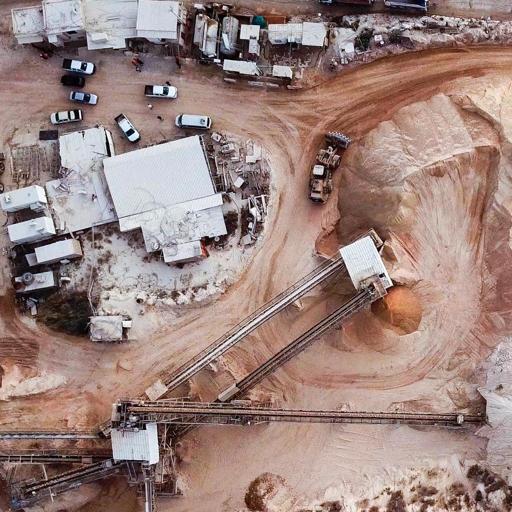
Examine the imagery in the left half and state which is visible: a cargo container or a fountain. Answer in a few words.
cargo container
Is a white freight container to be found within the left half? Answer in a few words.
Yes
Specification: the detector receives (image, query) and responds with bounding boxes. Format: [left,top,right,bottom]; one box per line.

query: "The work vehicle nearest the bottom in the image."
[307,132,352,202]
